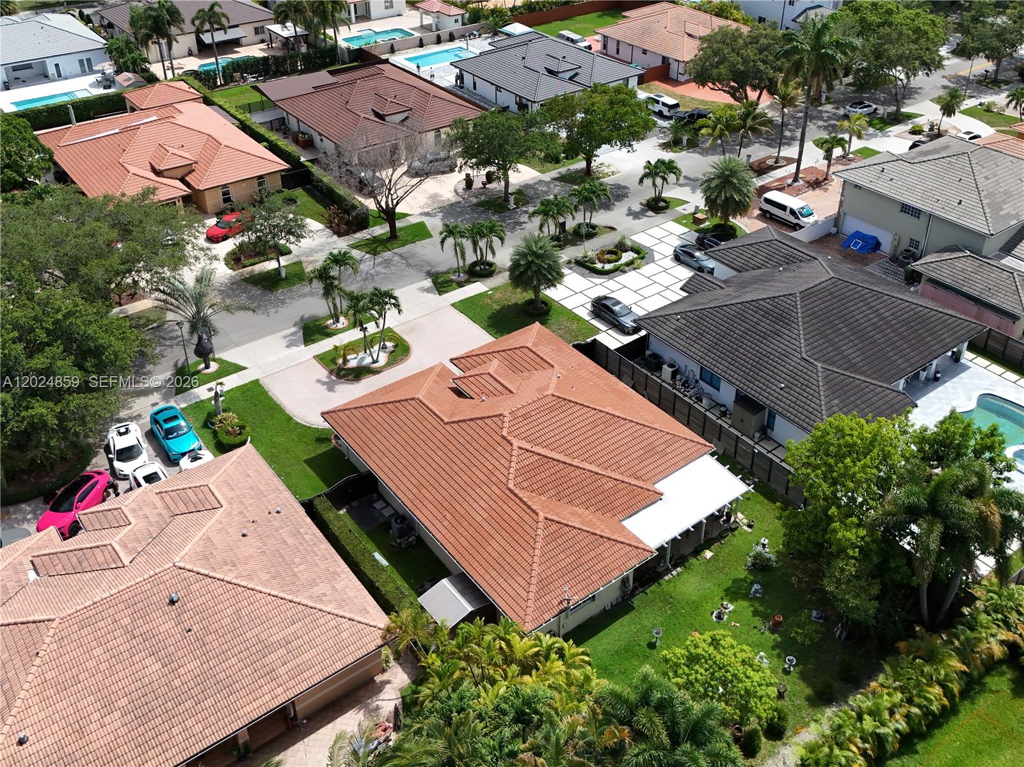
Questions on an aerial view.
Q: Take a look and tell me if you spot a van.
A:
Yes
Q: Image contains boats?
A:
No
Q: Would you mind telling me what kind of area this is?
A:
residential area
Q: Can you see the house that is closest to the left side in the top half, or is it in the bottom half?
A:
top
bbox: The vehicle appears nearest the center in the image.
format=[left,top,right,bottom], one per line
[586,297,642,336]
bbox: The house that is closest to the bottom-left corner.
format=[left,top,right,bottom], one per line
[0,440,402,767]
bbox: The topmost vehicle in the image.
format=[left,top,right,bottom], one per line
[558,31,589,48]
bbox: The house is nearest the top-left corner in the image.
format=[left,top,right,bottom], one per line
[0,11,107,86]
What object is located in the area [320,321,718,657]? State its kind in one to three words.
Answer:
house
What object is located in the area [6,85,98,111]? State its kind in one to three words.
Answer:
swimming pool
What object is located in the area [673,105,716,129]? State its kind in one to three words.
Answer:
truck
